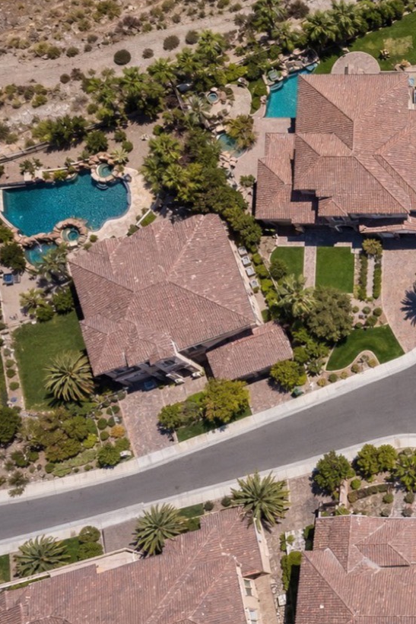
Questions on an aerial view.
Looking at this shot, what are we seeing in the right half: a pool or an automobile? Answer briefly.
pool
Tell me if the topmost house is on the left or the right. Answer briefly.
right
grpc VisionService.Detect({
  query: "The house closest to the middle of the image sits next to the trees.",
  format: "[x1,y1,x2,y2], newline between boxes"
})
[67,213,295,384]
